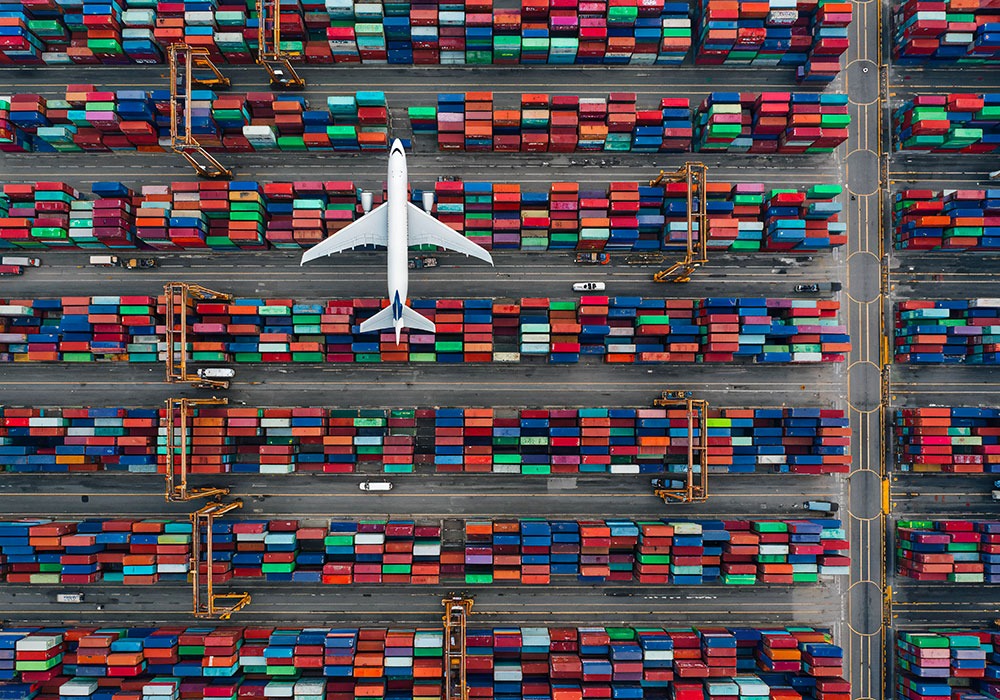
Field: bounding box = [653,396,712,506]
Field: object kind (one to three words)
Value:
container crane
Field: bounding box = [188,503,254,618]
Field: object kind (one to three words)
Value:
container crane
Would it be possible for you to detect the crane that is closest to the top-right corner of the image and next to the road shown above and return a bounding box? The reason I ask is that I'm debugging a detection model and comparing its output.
[652,161,711,286]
